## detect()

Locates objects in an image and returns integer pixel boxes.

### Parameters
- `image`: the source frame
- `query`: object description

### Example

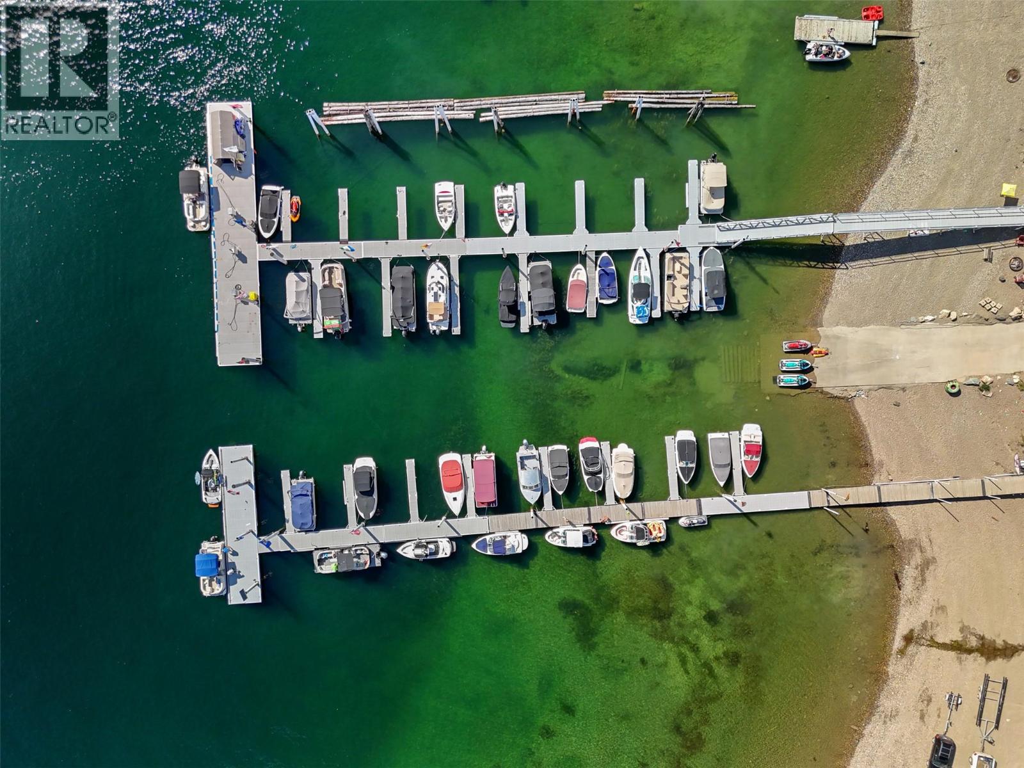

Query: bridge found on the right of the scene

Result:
[715,210,841,245]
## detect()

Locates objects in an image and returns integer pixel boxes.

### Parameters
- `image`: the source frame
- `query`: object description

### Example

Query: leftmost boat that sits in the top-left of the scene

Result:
[179,157,212,232]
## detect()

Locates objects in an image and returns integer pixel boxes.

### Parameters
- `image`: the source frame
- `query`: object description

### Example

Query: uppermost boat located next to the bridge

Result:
[699,153,728,225]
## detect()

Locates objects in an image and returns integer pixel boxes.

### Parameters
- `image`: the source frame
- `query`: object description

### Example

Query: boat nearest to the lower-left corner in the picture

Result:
[196,531,228,596]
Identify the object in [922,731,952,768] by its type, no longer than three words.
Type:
car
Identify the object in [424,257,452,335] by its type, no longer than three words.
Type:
boat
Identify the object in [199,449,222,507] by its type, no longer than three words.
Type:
boat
